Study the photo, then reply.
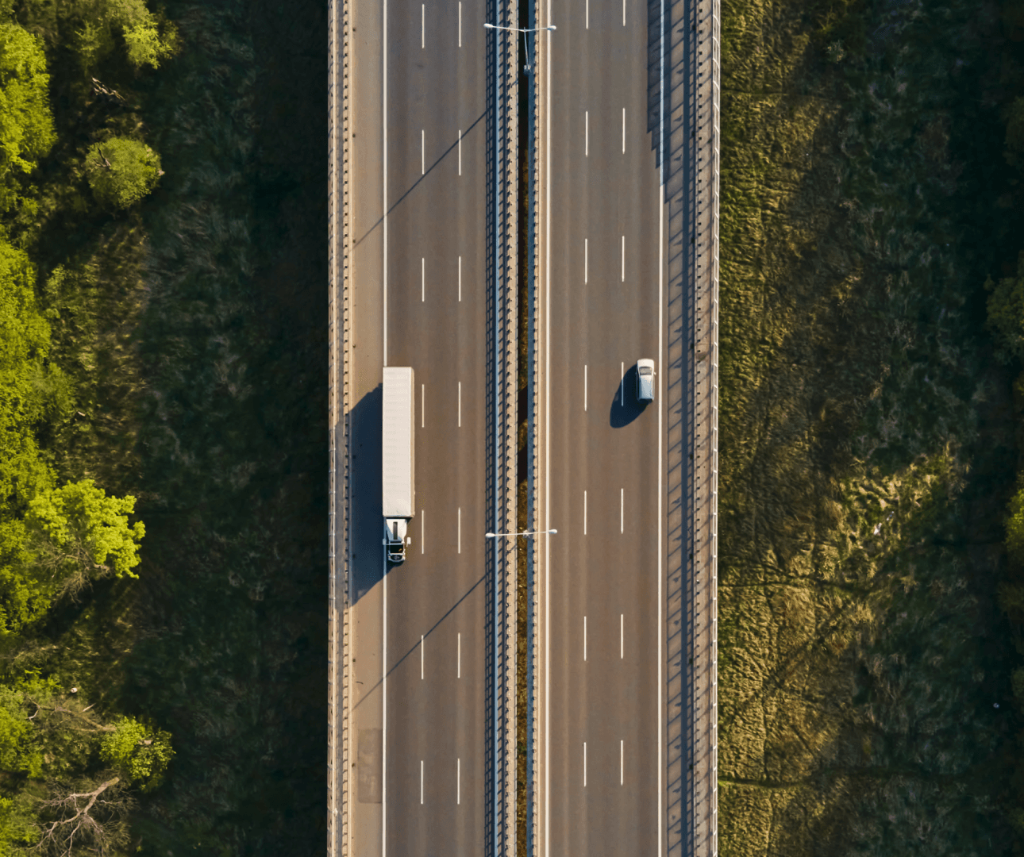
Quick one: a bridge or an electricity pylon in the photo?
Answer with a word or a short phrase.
bridge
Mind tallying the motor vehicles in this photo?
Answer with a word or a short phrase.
2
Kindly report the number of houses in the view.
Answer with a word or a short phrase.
0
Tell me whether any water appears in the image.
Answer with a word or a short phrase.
No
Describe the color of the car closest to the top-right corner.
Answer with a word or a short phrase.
white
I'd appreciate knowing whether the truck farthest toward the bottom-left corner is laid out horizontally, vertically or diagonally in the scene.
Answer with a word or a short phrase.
vertically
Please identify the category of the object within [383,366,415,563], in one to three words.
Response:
truck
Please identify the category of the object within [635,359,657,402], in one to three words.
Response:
car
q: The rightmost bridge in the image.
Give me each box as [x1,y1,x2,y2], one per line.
[526,0,721,857]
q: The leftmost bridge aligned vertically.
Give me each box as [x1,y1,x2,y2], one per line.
[327,0,520,857]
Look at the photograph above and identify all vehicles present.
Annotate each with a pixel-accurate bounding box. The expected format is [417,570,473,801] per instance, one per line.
[635,359,657,402]
[383,366,415,563]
